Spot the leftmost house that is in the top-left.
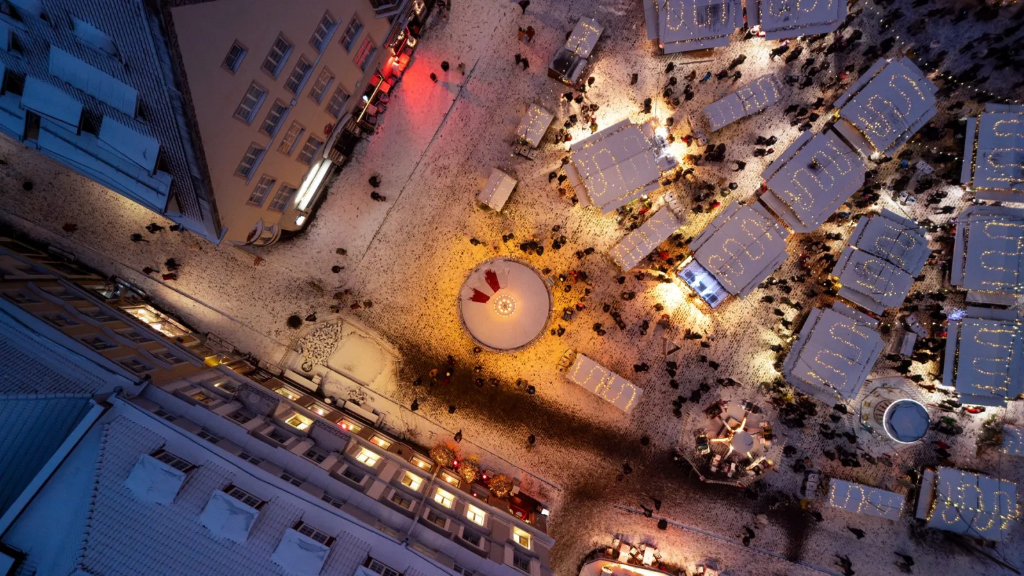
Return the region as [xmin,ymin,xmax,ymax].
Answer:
[0,0,433,251]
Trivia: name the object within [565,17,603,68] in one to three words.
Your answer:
shed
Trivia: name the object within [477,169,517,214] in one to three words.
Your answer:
shed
